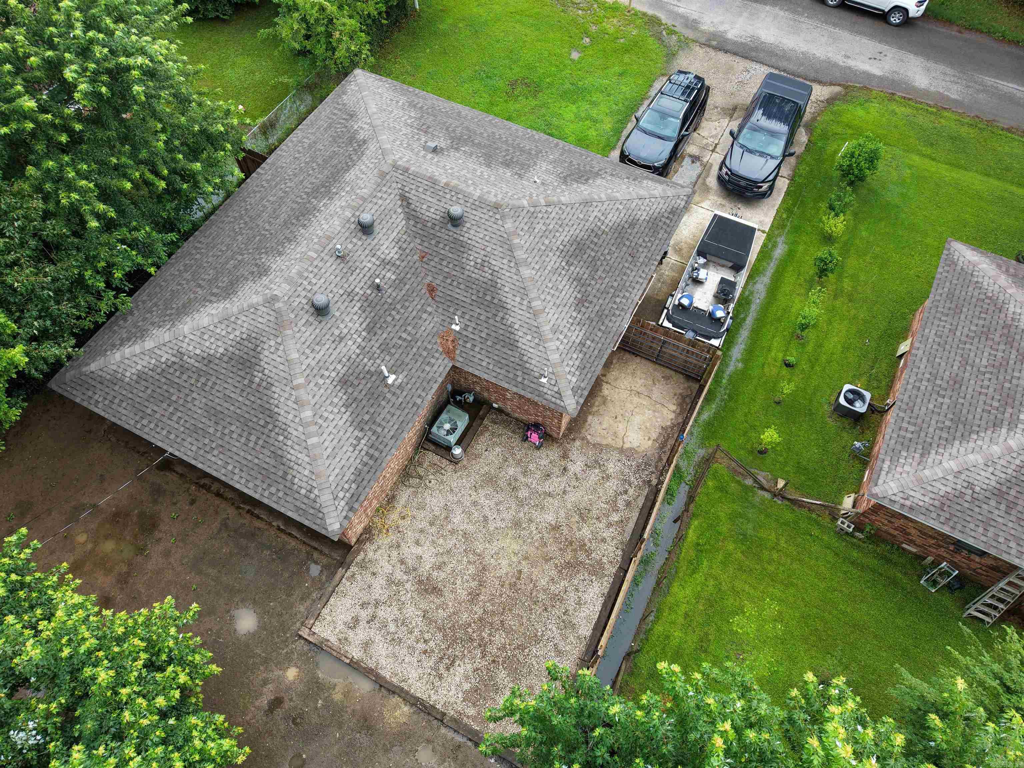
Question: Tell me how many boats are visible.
1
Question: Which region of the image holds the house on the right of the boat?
right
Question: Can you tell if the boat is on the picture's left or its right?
right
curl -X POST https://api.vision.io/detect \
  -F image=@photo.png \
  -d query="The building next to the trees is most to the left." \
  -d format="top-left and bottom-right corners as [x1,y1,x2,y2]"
[46,66,696,546]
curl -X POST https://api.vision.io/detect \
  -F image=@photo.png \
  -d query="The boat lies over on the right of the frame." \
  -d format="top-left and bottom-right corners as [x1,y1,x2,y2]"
[665,210,758,349]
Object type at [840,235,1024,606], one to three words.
house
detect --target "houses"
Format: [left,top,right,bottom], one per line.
[840,235,1024,606]
[46,66,696,546]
